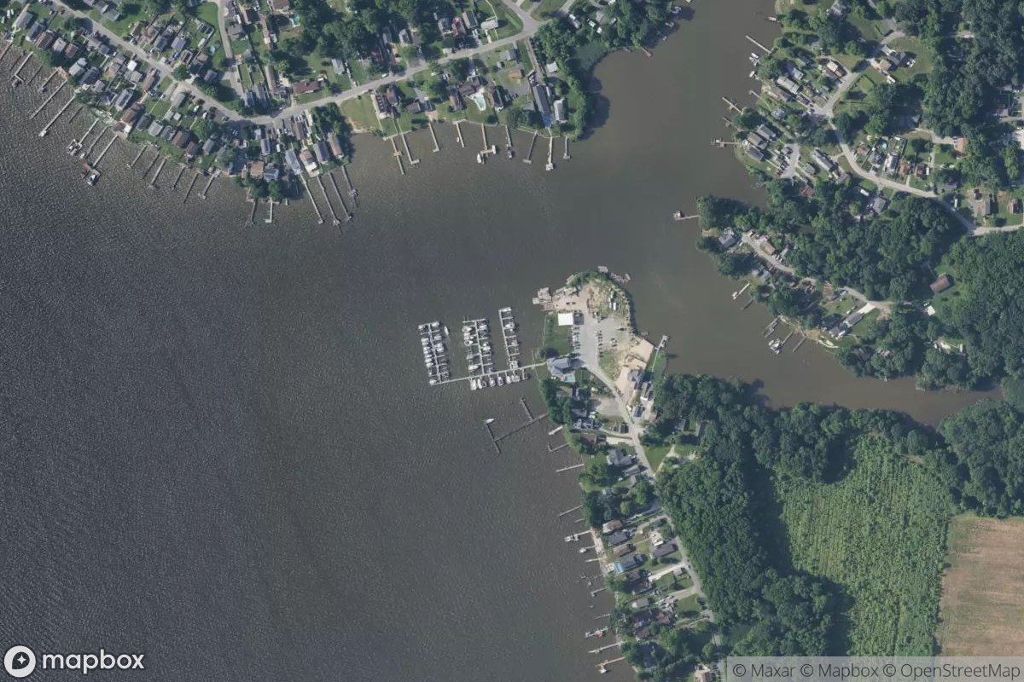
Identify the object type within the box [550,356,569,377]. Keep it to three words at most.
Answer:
building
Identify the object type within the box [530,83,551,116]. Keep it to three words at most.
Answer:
house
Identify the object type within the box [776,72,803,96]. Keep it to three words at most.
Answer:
house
